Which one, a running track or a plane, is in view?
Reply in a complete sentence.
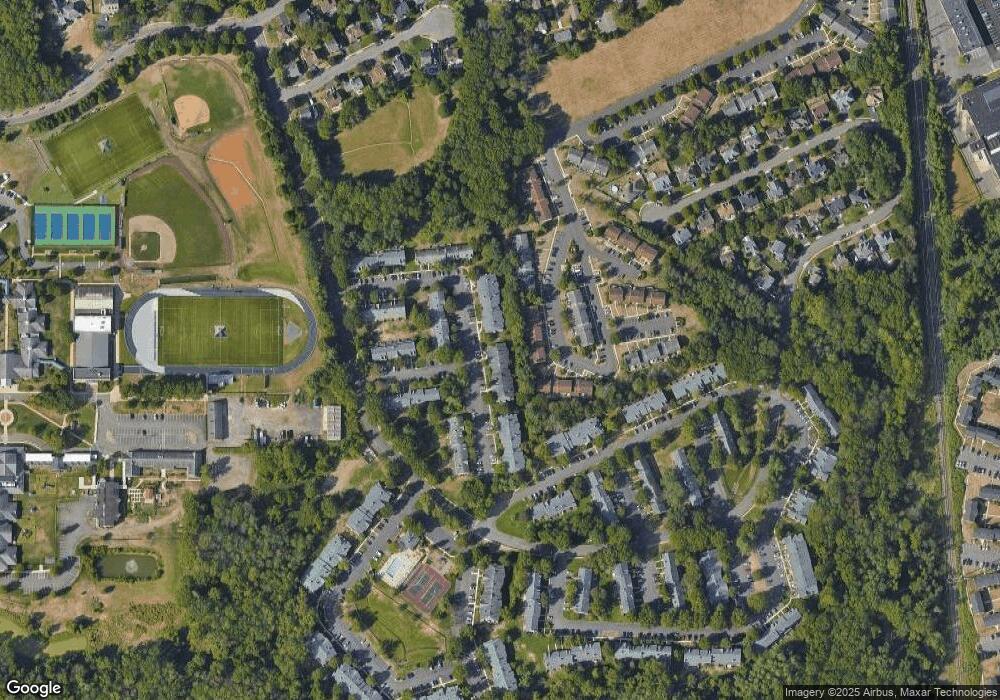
I can see a running track in this picture.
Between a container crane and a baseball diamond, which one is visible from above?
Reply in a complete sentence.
Of the two, only a baseball diamond appears.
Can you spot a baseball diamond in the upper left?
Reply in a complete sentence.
Yes, a baseball diamond shows up in the upper left.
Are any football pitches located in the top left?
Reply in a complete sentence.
Yes, you'll find a football pitch in the top left.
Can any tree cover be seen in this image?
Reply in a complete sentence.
Yes, the picture does contain tree cover.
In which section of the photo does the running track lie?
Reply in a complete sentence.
The running track is located in the left region of the scene.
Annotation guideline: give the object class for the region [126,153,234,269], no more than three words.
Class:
baseball field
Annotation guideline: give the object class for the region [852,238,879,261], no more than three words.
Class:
house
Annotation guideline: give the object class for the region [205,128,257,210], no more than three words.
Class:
baseball field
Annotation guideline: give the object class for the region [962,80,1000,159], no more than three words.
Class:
building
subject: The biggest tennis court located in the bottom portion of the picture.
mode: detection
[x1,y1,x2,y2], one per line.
[403,564,450,612]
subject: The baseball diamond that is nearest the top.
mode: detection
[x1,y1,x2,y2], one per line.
[165,62,243,135]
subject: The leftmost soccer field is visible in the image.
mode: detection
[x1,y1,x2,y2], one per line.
[41,94,165,195]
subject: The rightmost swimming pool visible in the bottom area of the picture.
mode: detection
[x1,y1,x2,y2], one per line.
[379,550,425,588]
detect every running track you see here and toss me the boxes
[121,288,318,374]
